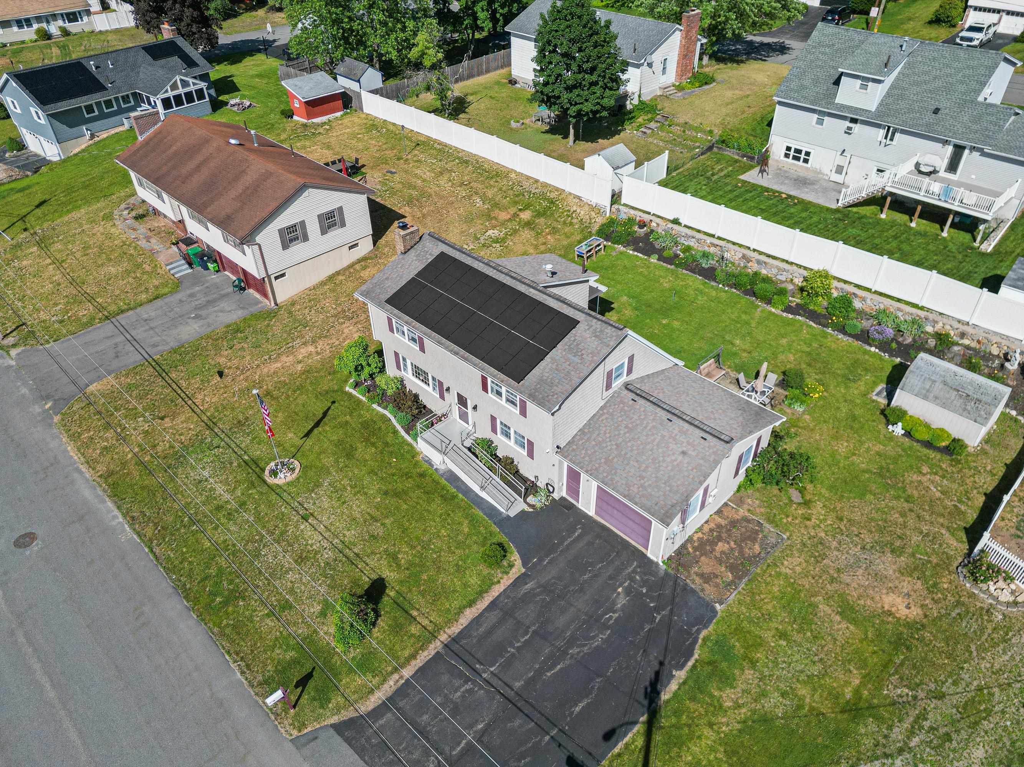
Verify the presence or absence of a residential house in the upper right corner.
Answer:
Yes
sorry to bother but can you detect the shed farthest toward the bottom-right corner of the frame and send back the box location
[890,351,1014,448]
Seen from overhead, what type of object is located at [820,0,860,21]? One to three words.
car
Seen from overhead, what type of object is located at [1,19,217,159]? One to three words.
house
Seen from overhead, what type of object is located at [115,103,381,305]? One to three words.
house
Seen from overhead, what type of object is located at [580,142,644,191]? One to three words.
shed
